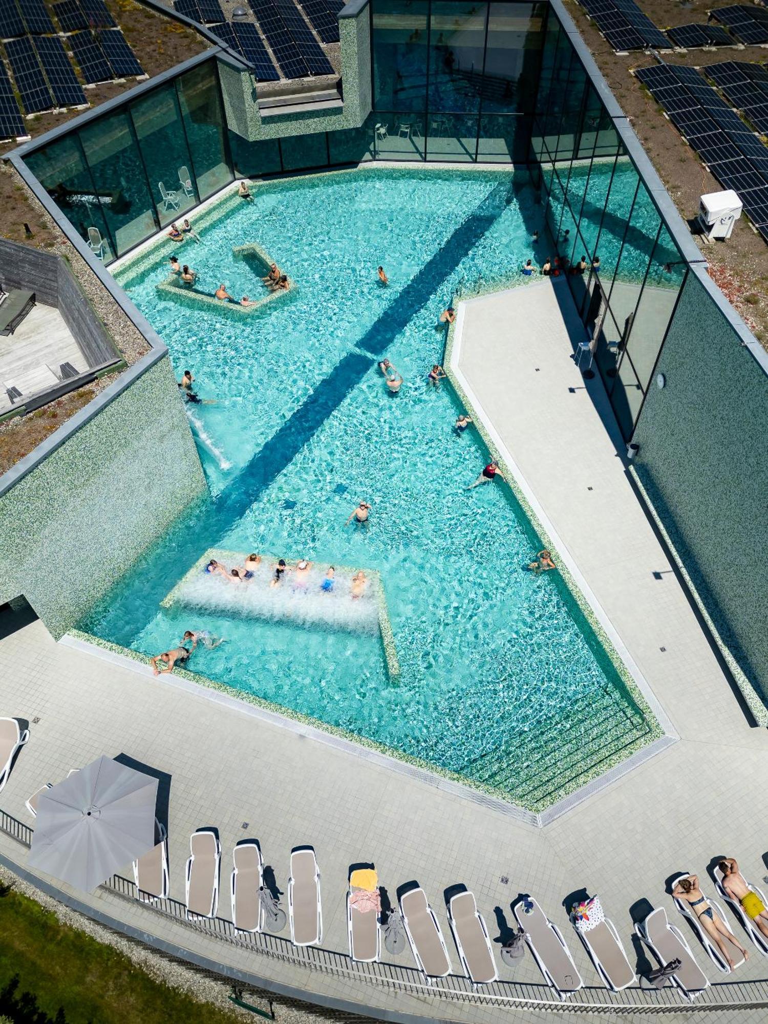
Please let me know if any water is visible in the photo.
Yes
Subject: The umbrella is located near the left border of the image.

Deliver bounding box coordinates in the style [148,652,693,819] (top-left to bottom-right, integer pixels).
[29,755,159,893]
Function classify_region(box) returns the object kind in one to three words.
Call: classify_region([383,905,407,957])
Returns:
umbrella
